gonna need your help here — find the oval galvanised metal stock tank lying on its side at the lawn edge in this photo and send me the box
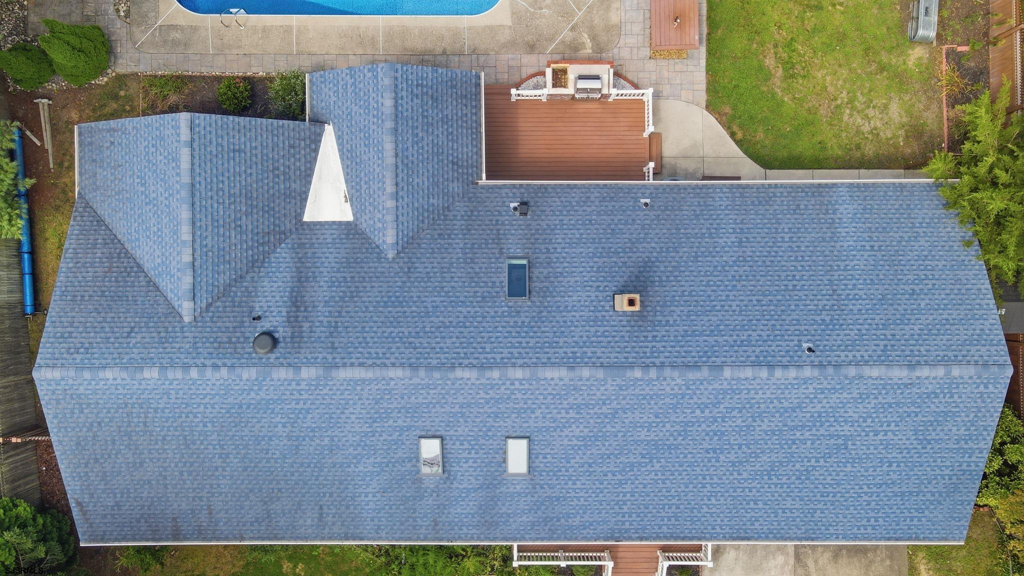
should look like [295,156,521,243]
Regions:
[908,0,940,51]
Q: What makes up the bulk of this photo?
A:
buildings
